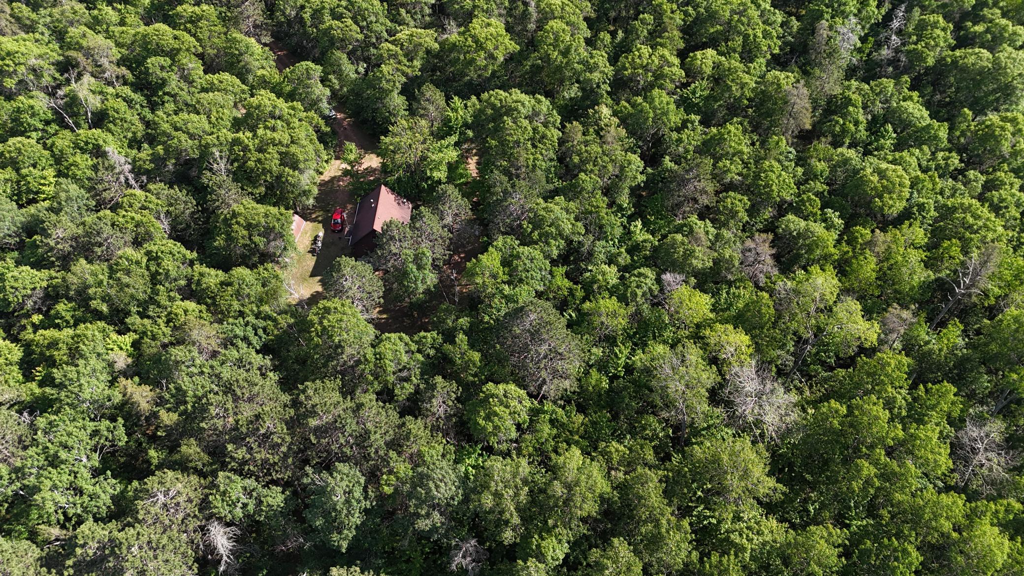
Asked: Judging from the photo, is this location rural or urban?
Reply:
rural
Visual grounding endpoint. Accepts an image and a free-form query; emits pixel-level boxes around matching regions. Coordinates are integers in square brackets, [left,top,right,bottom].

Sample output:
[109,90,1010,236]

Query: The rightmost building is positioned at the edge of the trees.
[341,185,414,254]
